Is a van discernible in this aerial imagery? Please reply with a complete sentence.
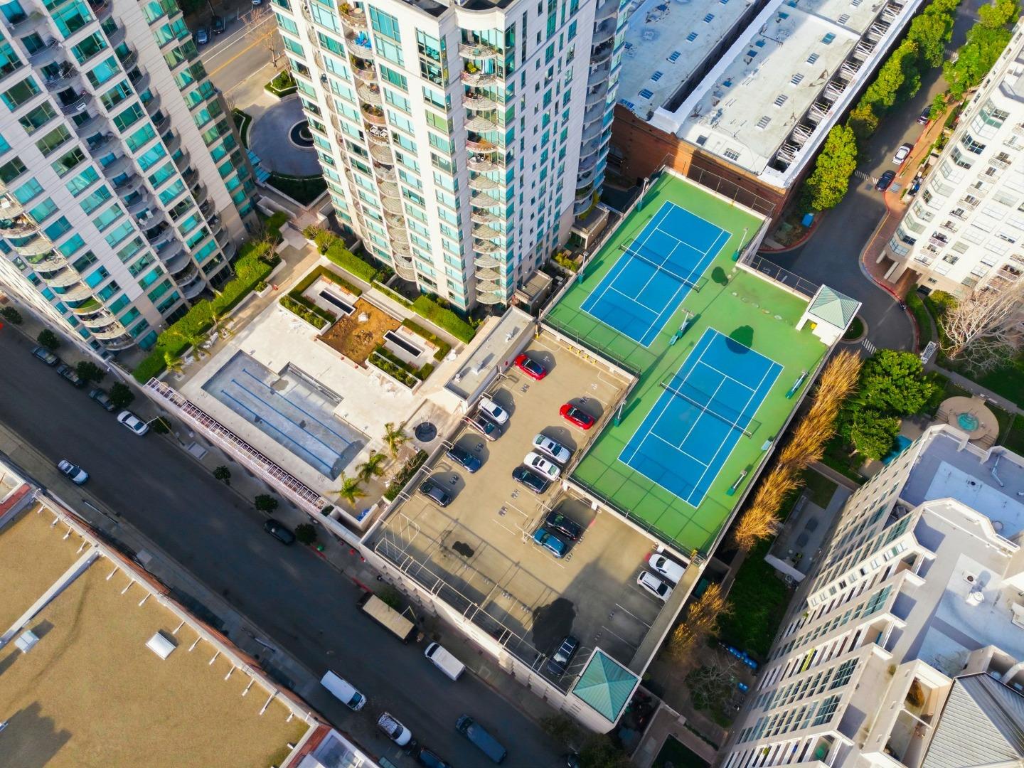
Yes, the photo shows a van.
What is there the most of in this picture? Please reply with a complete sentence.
For the most part, this view shows buildings.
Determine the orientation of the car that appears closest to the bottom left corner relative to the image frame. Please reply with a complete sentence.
What the image shows is the car that appears closest to the bottom left corner lying diagonally.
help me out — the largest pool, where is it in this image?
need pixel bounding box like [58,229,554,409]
[200,347,372,483]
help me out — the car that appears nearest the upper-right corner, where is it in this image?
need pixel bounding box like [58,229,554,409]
[918,104,936,125]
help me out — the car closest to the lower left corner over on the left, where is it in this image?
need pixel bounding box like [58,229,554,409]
[58,456,91,485]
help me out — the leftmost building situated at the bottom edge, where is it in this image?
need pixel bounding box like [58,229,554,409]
[0,485,335,768]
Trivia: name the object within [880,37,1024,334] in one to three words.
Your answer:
building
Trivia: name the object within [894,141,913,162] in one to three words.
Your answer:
car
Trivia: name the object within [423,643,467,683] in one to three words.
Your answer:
van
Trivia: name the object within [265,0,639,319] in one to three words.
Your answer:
building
